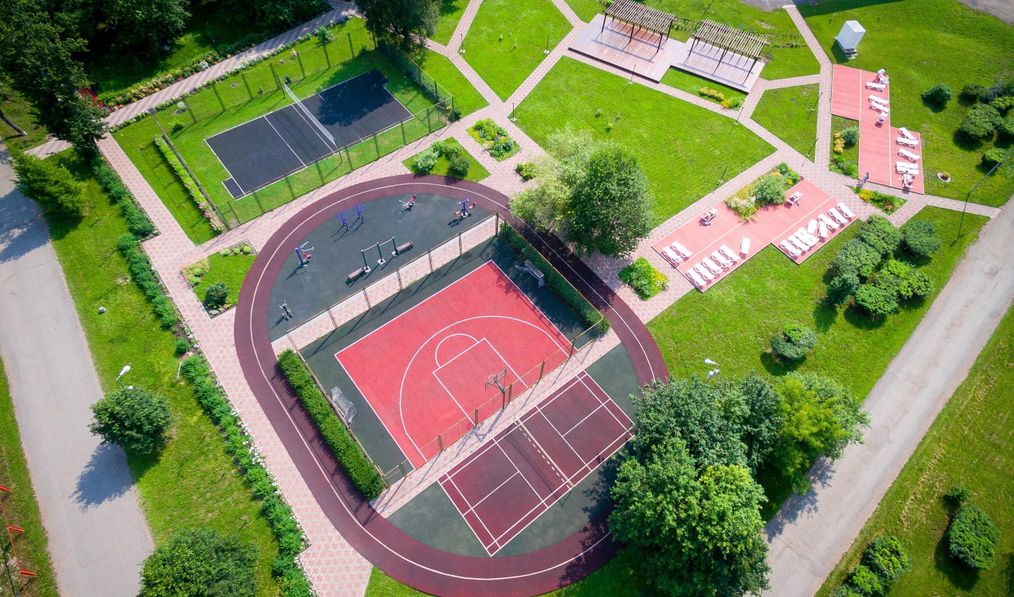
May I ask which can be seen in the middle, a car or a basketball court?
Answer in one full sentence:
The one visible in the middle is a basketball court.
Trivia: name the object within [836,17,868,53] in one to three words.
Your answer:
building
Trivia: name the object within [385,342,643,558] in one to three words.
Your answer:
sports court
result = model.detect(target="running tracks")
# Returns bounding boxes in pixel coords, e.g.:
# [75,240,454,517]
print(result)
[236,174,674,597]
